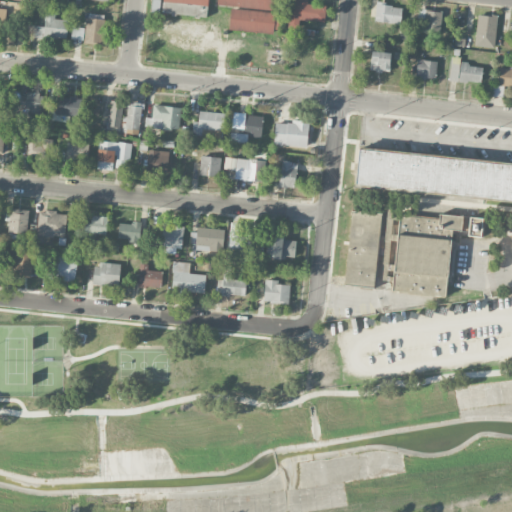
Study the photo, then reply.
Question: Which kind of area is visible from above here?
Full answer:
This looks like a residential area.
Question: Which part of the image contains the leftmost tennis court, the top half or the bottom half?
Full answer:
Seen from above, the leftmost tennis court lies in the bottom half of the view.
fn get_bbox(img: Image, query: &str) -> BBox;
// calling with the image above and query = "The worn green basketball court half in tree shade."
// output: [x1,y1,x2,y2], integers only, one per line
[118,350,170,382]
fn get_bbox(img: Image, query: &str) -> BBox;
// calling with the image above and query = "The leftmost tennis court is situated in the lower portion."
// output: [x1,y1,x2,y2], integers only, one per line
[0,326,34,396]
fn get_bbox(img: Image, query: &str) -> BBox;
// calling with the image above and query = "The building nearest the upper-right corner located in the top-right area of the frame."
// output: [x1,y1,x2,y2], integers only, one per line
[475,14,500,48]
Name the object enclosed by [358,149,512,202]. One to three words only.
building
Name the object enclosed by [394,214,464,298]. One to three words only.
building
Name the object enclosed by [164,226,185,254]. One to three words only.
house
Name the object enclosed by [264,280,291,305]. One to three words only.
house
